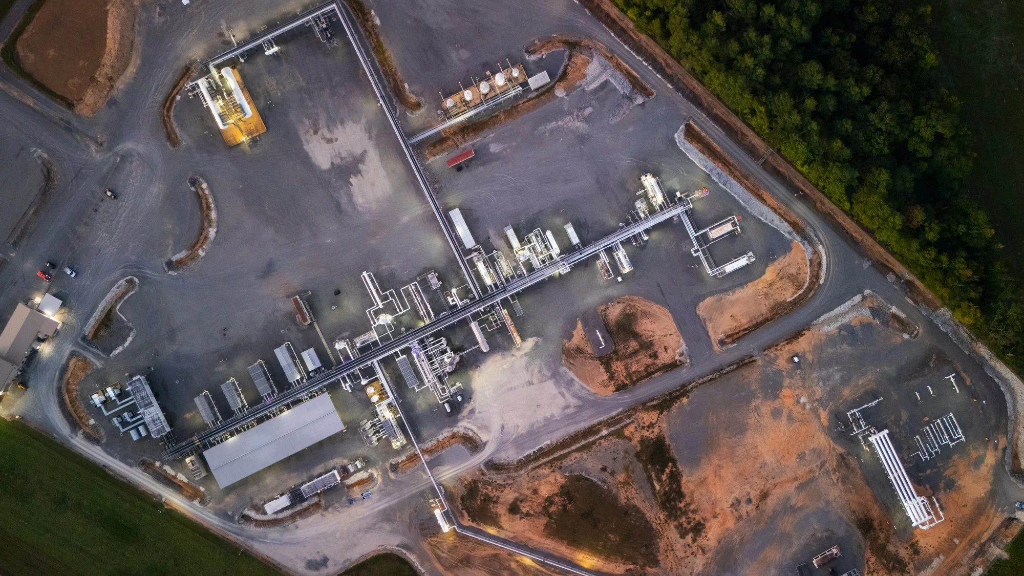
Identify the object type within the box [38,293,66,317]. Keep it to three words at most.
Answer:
building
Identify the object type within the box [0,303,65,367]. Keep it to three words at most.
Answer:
building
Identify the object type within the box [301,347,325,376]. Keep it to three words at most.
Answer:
shed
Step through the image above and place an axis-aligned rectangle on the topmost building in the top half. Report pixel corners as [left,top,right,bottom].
[528,71,554,93]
